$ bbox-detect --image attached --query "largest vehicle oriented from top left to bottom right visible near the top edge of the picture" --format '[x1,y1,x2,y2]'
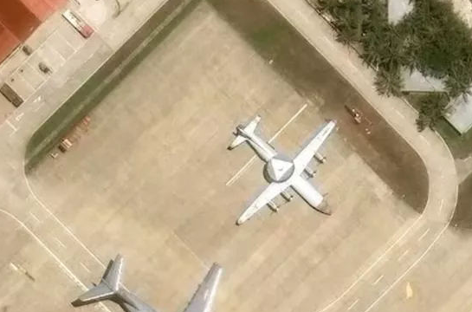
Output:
[62,8,94,37]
